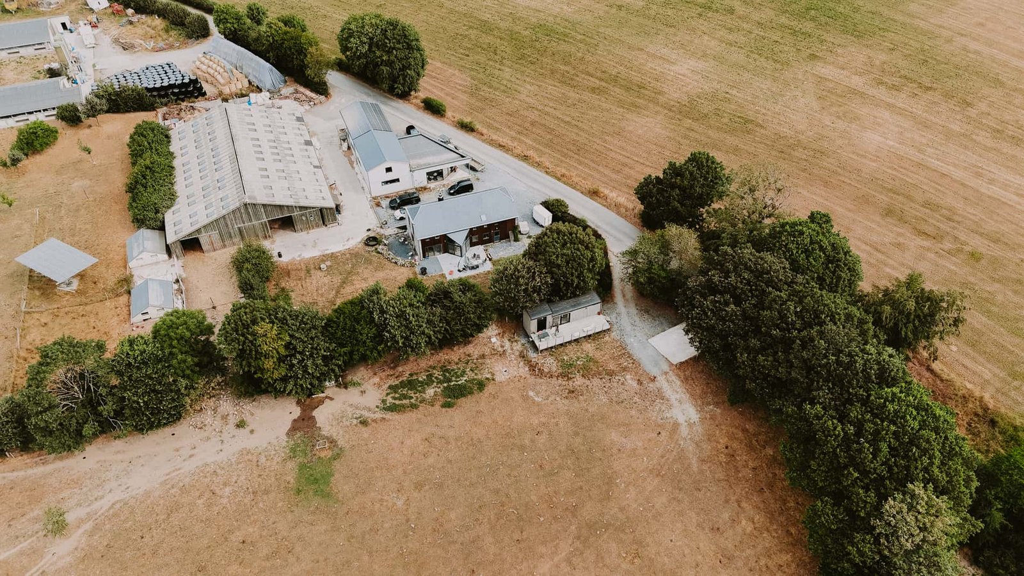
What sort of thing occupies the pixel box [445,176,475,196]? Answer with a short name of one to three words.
vehicle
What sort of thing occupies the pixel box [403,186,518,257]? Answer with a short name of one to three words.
house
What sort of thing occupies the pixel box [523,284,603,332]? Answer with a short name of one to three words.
building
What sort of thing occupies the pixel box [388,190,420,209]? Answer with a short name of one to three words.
car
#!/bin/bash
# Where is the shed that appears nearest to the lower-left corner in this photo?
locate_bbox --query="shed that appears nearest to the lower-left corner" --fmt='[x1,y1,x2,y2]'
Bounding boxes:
[131,278,180,327]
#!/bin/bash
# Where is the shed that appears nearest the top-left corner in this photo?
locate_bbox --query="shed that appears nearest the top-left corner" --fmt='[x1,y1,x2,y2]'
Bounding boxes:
[0,13,76,70]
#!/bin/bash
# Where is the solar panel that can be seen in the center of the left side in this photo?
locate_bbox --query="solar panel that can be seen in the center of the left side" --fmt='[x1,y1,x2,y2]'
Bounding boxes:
[15,238,98,293]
